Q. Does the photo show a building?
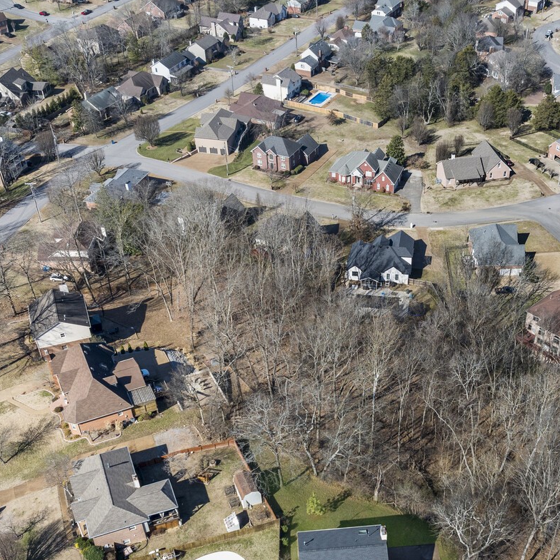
Yes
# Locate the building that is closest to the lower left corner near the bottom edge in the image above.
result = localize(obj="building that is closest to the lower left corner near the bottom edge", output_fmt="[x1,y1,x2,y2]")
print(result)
[66,445,182,547]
